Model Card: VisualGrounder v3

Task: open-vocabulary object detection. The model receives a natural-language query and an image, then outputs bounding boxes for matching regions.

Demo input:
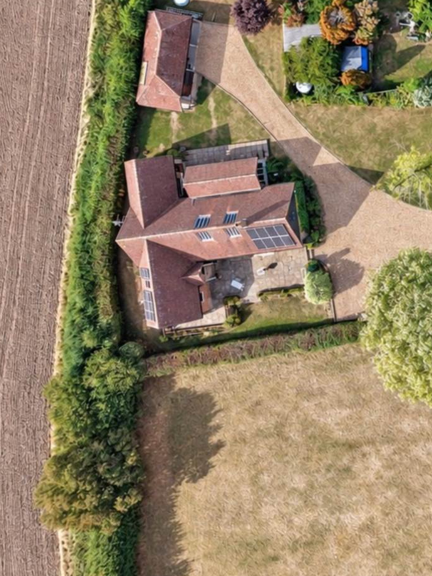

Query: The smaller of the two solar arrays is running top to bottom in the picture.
[143,290,156,322]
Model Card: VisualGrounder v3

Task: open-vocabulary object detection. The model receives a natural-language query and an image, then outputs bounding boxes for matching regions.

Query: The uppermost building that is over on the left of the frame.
[136,9,202,110]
